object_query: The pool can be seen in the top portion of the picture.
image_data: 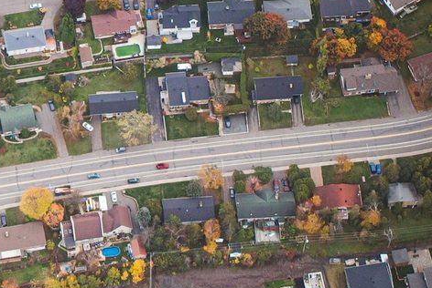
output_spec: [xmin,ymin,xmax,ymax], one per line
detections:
[114,43,143,57]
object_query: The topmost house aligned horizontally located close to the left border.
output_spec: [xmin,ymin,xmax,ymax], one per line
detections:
[2,26,56,55]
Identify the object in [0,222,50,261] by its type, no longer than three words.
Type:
house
